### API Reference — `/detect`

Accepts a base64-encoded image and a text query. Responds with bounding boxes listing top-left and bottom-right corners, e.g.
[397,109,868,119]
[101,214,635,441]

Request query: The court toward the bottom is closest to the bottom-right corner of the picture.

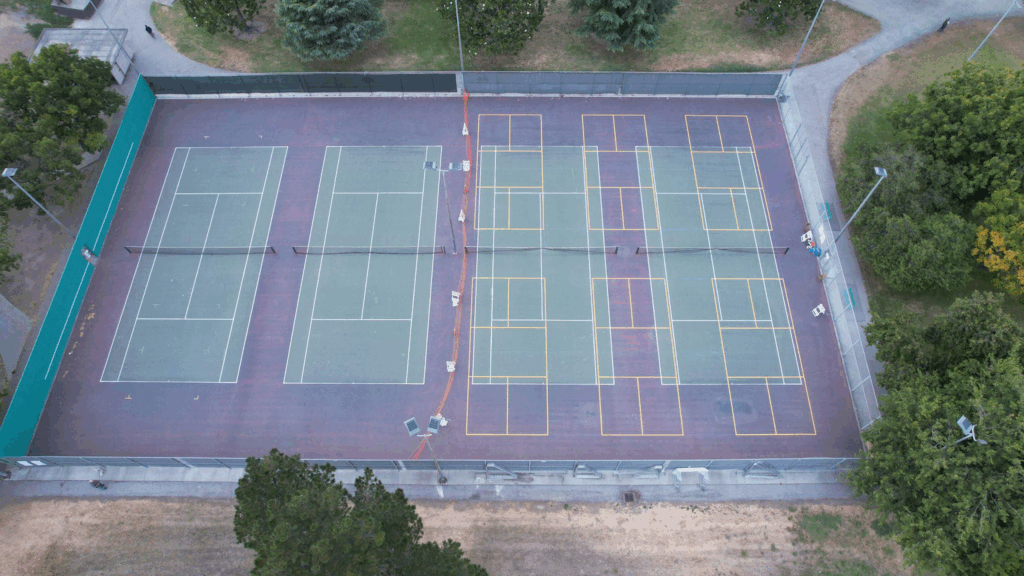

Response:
[710,278,817,436]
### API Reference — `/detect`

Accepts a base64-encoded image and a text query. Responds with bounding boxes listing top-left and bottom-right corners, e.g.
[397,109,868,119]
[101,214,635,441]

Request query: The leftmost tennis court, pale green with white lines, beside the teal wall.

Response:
[99,147,289,397]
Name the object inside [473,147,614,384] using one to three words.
tennis court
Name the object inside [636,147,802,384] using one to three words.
tennis court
